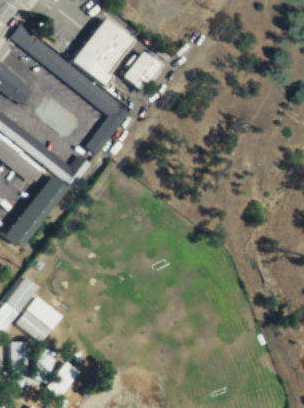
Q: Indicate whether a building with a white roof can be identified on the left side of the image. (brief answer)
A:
Yes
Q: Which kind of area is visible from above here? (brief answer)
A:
sports ground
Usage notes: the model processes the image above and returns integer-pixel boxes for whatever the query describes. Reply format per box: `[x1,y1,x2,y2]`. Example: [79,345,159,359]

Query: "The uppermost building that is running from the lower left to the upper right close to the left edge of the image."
[0,176,68,246]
